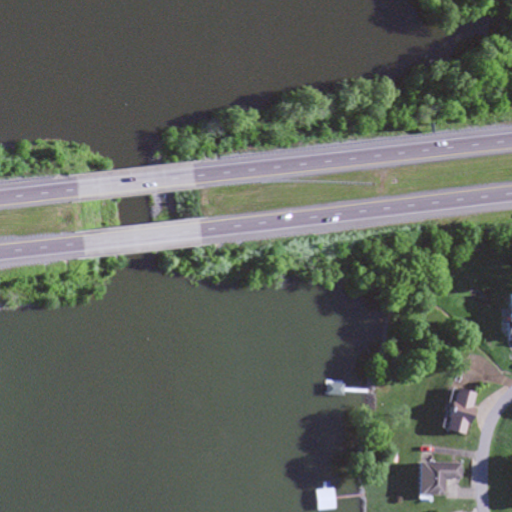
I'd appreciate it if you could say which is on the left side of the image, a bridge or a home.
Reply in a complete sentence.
The feature located on the left side of the image is a bridge.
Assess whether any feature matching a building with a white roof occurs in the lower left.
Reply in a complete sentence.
No, no building with a white roof can be made out in the lower left.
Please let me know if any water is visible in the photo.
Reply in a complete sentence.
Yes, the picture does contain water.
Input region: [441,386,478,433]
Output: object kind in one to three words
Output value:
house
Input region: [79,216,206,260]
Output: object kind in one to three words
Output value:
bridge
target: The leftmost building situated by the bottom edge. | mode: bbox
[316,486,338,510]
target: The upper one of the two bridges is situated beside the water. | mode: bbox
[74,160,200,203]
